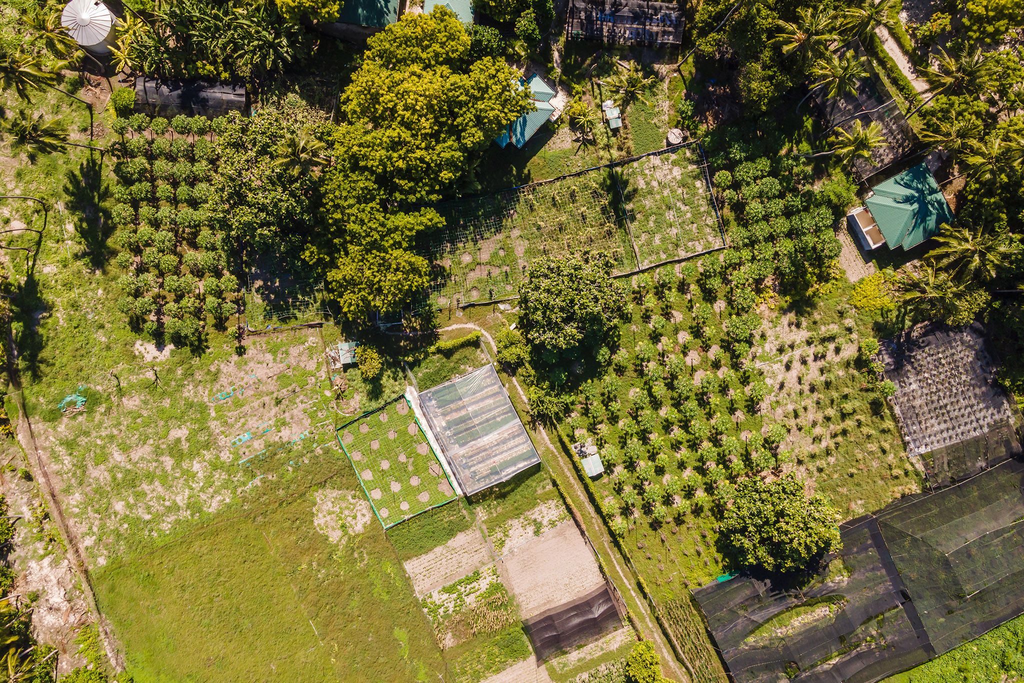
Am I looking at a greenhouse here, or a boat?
greenhouse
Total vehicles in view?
zero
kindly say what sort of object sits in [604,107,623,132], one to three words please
shed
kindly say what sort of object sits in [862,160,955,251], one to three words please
house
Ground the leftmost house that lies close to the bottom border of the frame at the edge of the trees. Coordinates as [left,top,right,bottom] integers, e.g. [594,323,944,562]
[686,510,936,683]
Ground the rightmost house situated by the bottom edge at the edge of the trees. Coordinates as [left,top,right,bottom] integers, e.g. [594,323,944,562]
[862,439,1024,661]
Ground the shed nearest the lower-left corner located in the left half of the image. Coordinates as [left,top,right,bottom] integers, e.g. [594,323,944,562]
[339,342,359,365]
